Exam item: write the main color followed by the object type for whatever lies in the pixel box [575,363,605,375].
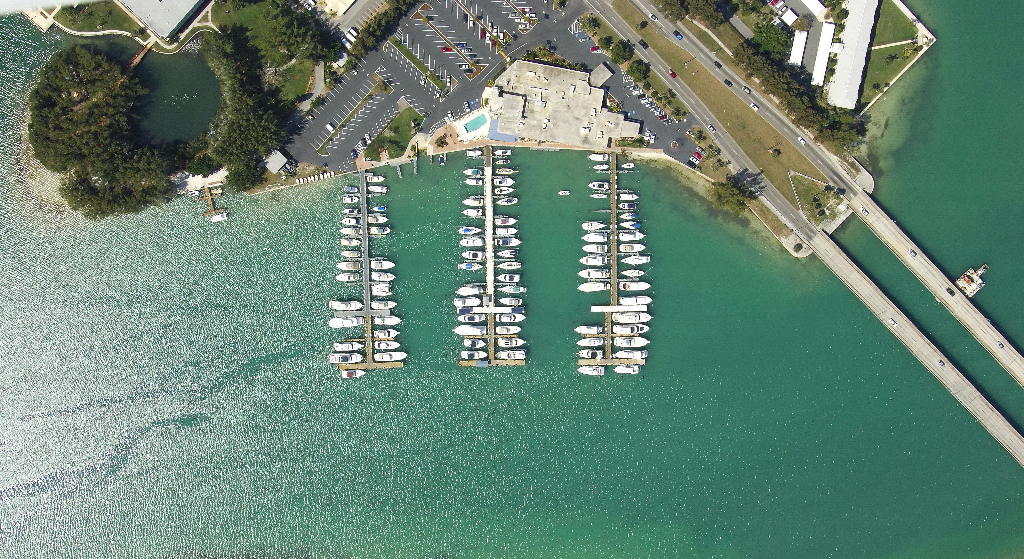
white boat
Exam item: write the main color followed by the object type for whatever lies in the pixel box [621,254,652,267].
white boat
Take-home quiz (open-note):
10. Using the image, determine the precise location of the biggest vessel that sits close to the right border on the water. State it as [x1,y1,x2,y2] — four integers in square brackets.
[955,268,984,296]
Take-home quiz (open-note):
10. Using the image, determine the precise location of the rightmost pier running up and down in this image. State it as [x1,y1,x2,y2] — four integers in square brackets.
[578,151,647,366]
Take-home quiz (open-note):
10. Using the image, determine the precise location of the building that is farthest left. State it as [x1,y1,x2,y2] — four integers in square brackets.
[122,0,204,39]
